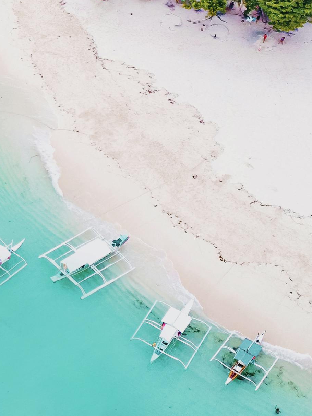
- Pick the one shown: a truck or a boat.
boat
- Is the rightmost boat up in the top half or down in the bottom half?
bottom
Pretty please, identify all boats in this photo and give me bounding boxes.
[38,227,135,298]
[0,239,28,285]
[130,298,212,369]
[210,331,278,390]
